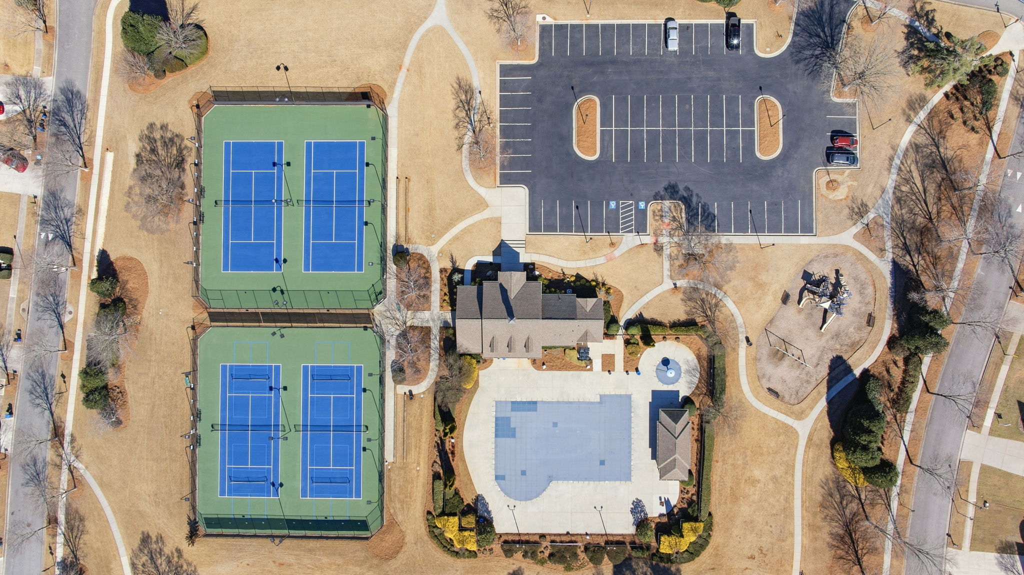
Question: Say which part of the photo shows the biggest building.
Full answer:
The biggest building is in the center part of the image.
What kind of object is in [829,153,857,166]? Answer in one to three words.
vehicle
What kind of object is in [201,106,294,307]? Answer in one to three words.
tennis court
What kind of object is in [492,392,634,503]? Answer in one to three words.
swimming pool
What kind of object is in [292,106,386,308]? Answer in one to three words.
tennis court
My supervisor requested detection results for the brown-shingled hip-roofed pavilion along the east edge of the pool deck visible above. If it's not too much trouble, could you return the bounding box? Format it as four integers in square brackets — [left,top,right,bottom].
[655,409,691,482]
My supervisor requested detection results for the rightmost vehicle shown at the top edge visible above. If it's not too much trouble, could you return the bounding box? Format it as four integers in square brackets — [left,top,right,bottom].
[728,17,742,52]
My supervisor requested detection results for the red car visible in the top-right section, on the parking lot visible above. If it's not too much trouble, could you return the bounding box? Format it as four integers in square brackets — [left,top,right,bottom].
[830,136,858,148]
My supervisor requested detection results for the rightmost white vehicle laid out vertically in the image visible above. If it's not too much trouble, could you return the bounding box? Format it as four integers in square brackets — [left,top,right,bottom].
[665,21,679,52]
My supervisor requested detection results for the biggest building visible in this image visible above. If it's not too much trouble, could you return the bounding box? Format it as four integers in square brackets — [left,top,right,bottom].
[456,271,604,358]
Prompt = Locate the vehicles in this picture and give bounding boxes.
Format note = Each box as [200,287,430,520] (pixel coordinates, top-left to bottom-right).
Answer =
[829,153,857,166]
[830,136,858,148]
[0,152,27,172]
[728,17,742,52]
[665,21,679,52]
